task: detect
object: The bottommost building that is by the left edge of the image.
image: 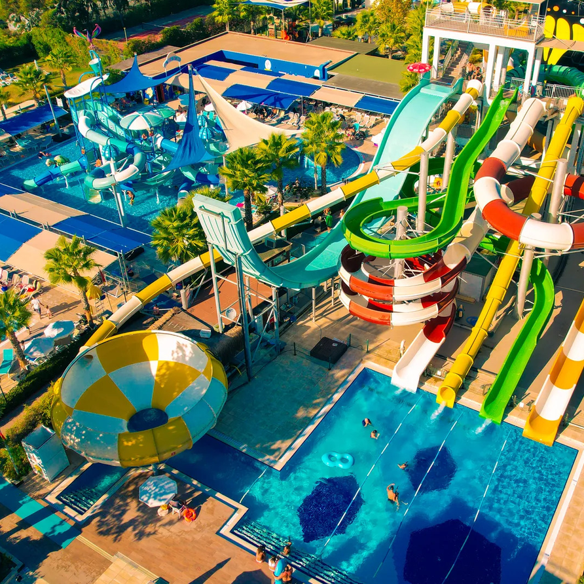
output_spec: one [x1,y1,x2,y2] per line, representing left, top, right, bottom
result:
[23,420,82,484]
